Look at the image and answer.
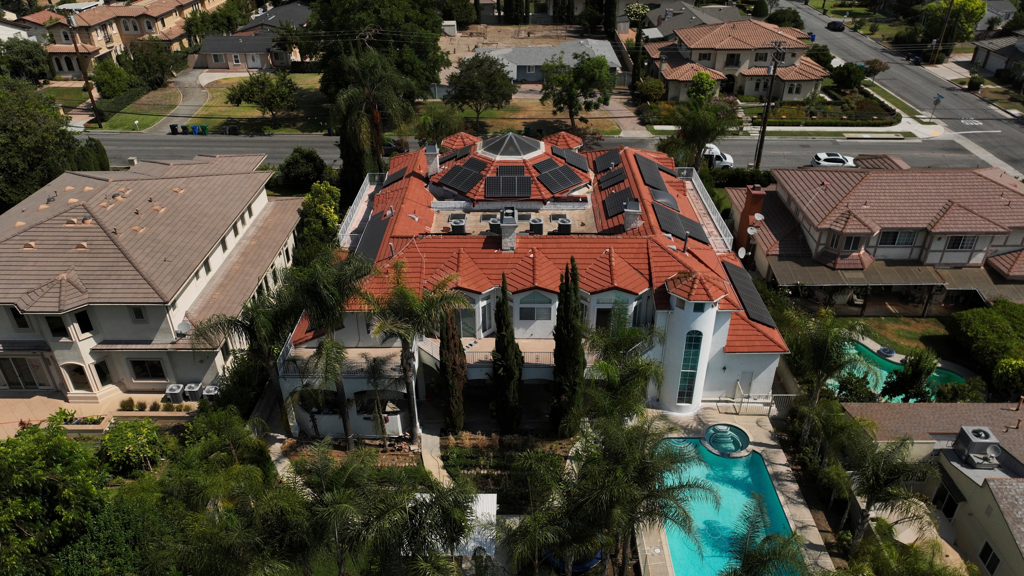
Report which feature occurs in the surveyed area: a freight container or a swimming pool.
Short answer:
swimming pool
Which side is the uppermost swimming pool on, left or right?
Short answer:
right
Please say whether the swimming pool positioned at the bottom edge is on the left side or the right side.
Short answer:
right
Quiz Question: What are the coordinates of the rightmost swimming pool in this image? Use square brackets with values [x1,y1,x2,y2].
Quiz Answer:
[834,341,957,403]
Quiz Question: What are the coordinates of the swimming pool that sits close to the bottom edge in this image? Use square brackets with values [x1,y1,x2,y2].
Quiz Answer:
[638,434,818,576]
